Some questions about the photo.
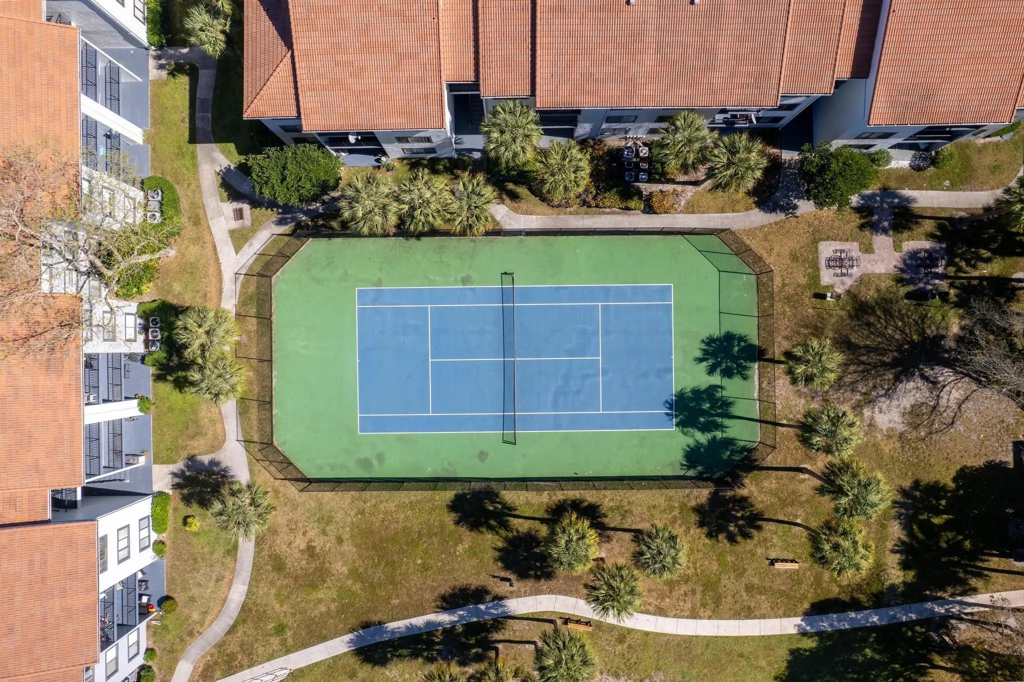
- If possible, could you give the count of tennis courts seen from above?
1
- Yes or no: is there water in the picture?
No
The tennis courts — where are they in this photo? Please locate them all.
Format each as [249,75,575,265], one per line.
[271,234,761,480]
